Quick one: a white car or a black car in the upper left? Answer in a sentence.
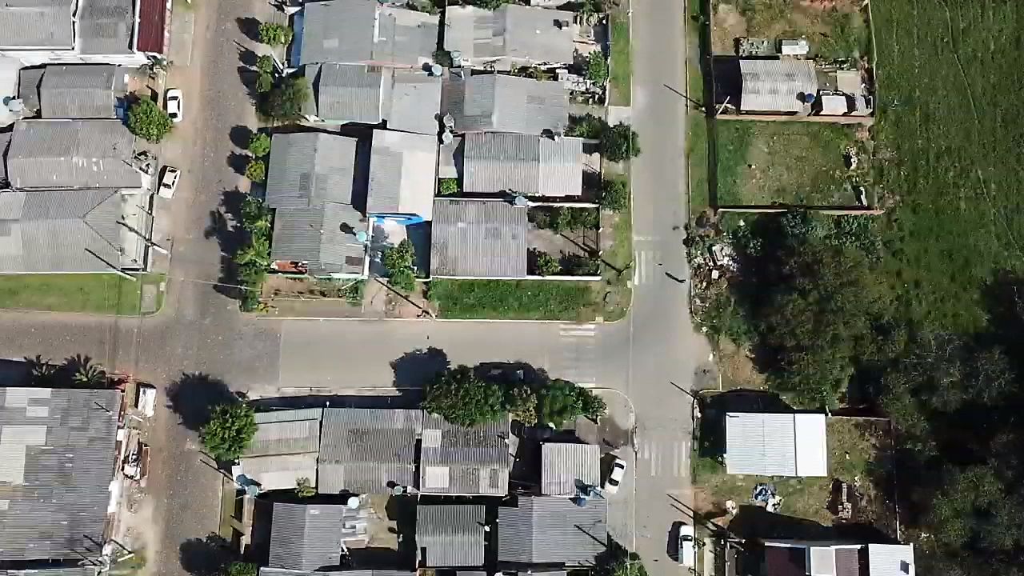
The one visible in the upper left is a white car.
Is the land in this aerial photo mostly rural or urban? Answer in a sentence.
The area is urban.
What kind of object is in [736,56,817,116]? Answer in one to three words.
house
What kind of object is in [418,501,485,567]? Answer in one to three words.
house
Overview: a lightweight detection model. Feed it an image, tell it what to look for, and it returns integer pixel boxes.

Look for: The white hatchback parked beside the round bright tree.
[165,91,183,122]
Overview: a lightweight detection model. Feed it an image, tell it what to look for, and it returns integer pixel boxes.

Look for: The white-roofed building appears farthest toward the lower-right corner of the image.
[857,542,914,576]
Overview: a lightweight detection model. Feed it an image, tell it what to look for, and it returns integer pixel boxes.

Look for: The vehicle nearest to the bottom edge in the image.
[677,524,696,568]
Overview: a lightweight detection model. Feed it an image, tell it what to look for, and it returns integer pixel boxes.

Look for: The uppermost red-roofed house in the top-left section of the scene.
[136,0,168,60]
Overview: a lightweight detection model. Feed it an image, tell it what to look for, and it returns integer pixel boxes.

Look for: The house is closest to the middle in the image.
[430,199,528,279]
